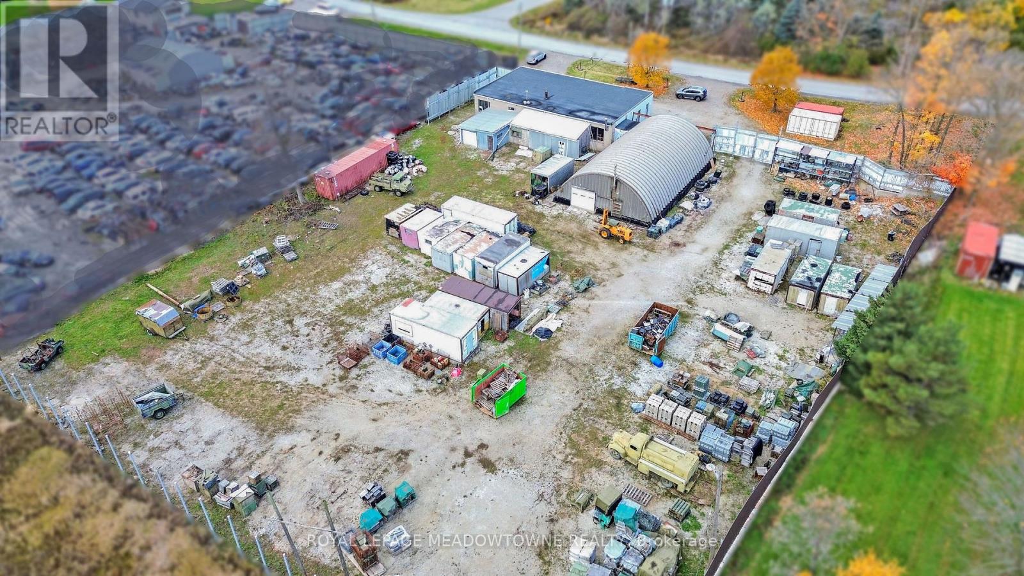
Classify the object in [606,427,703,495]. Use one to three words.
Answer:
truck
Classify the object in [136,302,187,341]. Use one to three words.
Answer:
trailer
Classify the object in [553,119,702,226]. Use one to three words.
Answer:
shed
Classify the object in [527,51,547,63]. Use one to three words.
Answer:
vehicle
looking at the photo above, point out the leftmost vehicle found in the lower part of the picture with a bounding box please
[15,337,62,371]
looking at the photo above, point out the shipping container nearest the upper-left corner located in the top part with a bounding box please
[310,138,404,196]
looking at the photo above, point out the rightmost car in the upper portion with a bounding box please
[674,86,707,101]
